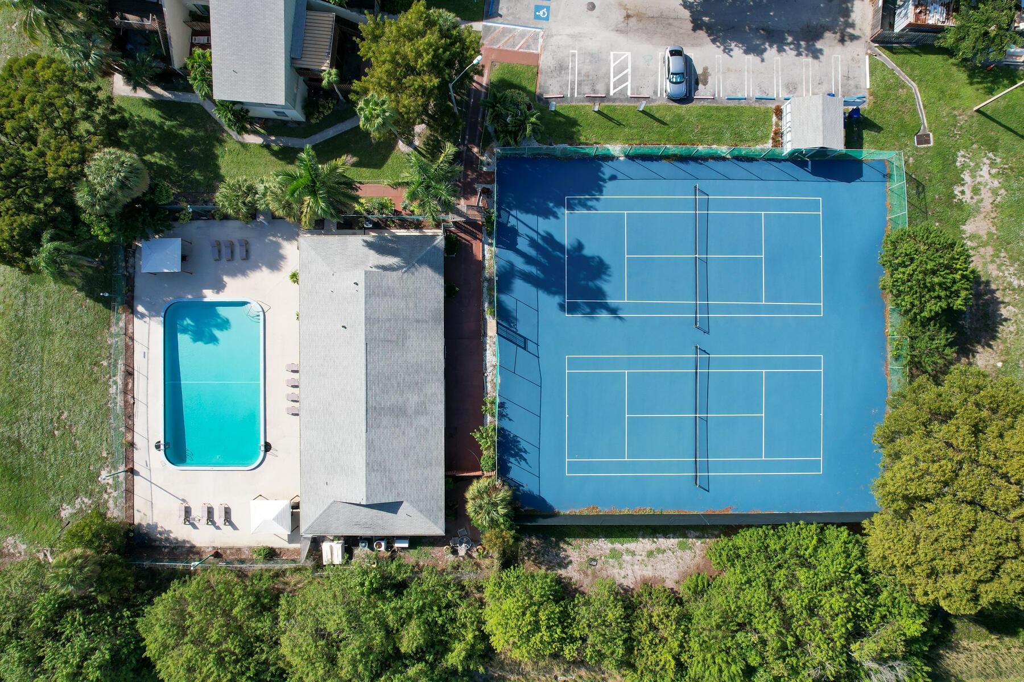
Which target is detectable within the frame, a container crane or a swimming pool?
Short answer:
swimming pool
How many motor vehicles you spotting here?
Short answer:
1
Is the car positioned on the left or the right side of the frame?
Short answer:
right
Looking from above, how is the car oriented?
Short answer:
up and down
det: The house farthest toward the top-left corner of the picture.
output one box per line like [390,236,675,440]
[213,0,342,120]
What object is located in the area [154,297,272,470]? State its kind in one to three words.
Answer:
swimming pool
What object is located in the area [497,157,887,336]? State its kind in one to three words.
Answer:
tennis court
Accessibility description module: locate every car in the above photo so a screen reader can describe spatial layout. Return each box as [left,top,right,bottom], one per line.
[664,44,689,100]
